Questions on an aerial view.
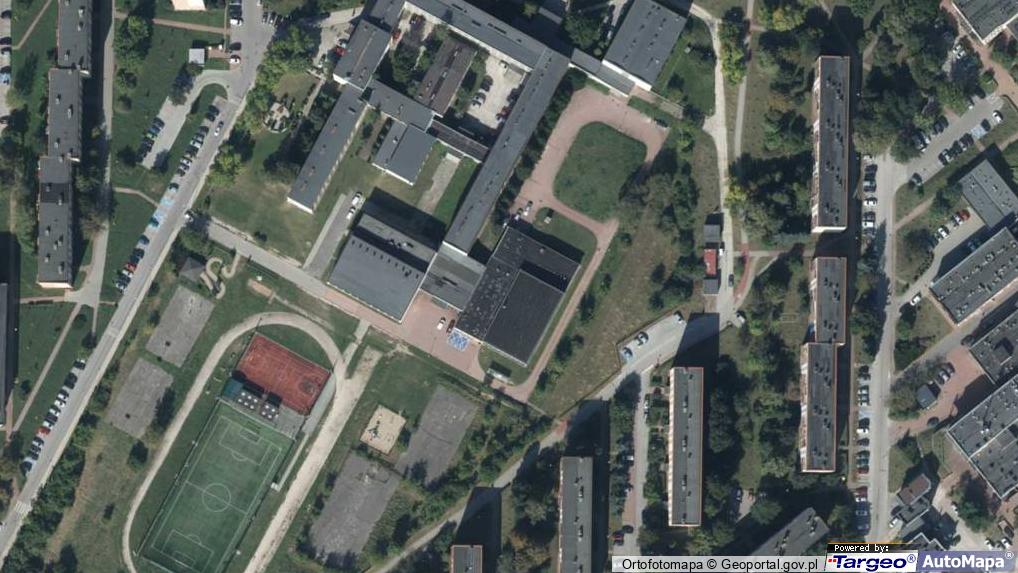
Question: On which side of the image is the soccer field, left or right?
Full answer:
The soccer field sits on the left side.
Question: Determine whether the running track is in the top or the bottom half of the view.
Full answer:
The bottom half of the photo is where the running track is.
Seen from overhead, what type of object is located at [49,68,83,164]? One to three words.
building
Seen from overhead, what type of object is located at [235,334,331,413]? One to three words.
sports court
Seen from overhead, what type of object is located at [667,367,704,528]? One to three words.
building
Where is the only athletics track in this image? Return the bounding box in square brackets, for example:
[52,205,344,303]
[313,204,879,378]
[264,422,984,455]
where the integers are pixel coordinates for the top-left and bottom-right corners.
[125,313,383,573]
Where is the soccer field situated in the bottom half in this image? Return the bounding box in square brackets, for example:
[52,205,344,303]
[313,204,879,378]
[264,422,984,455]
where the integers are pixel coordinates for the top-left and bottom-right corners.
[139,400,295,573]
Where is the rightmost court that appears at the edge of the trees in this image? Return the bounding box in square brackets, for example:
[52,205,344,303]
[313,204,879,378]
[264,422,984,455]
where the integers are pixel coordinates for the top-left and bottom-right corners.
[396,386,478,485]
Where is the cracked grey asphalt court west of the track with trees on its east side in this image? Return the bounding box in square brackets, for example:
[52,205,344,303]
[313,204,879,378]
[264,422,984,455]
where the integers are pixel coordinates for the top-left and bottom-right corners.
[106,358,173,438]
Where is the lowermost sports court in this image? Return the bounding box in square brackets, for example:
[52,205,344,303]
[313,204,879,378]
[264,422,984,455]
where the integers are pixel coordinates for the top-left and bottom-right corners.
[311,450,399,559]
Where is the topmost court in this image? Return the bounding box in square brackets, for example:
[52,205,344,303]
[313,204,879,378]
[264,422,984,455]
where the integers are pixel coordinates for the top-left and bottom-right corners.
[146,286,214,367]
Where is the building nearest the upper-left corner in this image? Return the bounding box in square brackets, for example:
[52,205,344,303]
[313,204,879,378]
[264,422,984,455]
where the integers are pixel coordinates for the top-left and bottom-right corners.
[58,0,91,75]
